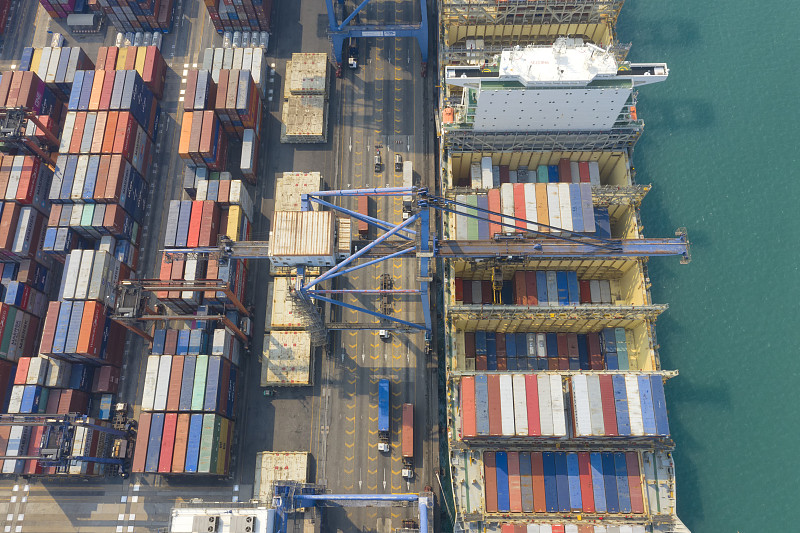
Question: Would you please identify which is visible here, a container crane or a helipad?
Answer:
container crane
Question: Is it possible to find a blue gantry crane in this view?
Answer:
Yes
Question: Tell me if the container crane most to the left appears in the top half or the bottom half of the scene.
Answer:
top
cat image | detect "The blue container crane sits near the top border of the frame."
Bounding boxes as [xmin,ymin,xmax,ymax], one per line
[323,0,427,77]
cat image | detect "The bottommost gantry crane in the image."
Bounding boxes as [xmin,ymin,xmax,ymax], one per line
[166,481,443,533]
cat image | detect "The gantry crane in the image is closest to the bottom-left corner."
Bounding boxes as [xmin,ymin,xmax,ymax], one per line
[0,408,138,473]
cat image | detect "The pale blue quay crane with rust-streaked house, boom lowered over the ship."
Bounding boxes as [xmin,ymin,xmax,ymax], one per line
[159,173,703,355]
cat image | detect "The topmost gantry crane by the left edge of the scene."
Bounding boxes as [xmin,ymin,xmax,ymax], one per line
[0,99,64,163]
